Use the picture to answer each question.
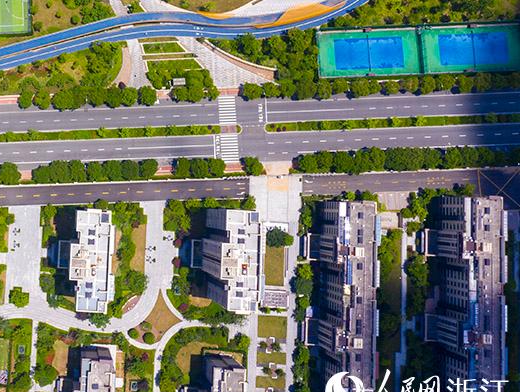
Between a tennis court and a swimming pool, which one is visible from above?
tennis court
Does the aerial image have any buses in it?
No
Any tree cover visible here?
Yes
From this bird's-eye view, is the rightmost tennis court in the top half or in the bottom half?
top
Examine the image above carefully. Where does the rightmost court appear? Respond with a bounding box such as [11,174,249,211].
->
[423,18,520,76]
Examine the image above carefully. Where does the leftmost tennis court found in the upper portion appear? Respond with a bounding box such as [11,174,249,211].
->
[316,22,427,80]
